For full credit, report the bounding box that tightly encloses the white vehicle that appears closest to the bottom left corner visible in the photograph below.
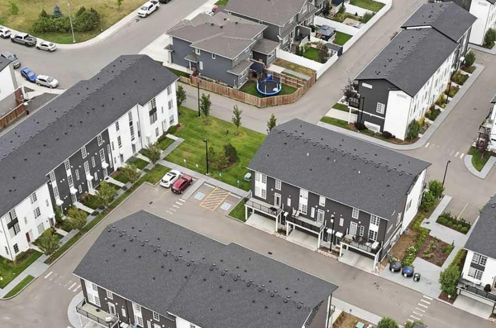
[158,168,181,187]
